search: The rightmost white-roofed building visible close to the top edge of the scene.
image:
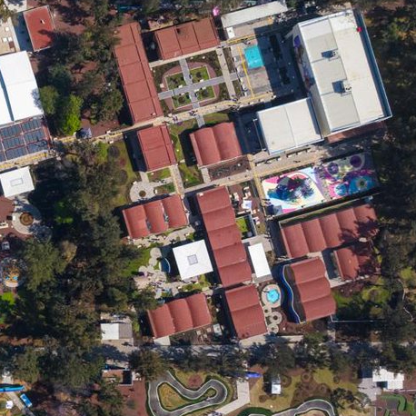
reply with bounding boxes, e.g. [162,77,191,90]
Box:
[284,9,392,135]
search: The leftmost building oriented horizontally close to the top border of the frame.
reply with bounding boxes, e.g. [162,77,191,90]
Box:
[154,18,220,62]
